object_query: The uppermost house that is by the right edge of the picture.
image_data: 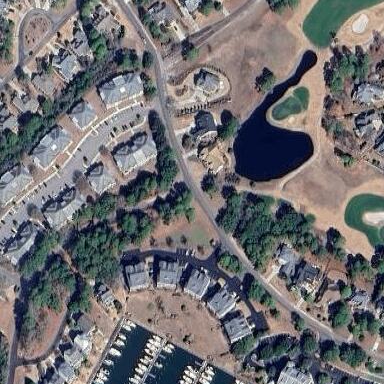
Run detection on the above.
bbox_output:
[353,82,383,104]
